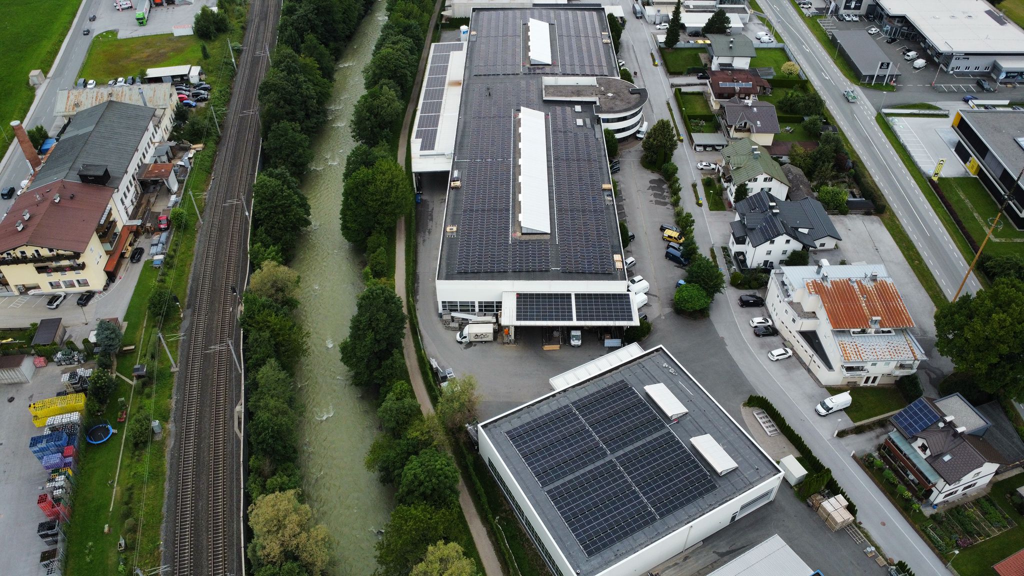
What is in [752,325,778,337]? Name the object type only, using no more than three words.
vehicle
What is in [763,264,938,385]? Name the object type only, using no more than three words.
building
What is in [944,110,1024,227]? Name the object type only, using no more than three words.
building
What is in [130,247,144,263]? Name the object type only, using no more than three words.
car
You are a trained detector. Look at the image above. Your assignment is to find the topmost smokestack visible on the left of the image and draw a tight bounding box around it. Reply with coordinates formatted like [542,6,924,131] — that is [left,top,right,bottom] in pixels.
[7,115,45,172]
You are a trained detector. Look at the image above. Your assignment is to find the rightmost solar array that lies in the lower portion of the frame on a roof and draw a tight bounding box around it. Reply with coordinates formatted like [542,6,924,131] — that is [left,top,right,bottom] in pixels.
[895,401,946,445]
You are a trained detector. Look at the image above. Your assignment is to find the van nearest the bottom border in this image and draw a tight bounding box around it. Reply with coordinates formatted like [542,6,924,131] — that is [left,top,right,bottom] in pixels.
[816,387,855,415]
